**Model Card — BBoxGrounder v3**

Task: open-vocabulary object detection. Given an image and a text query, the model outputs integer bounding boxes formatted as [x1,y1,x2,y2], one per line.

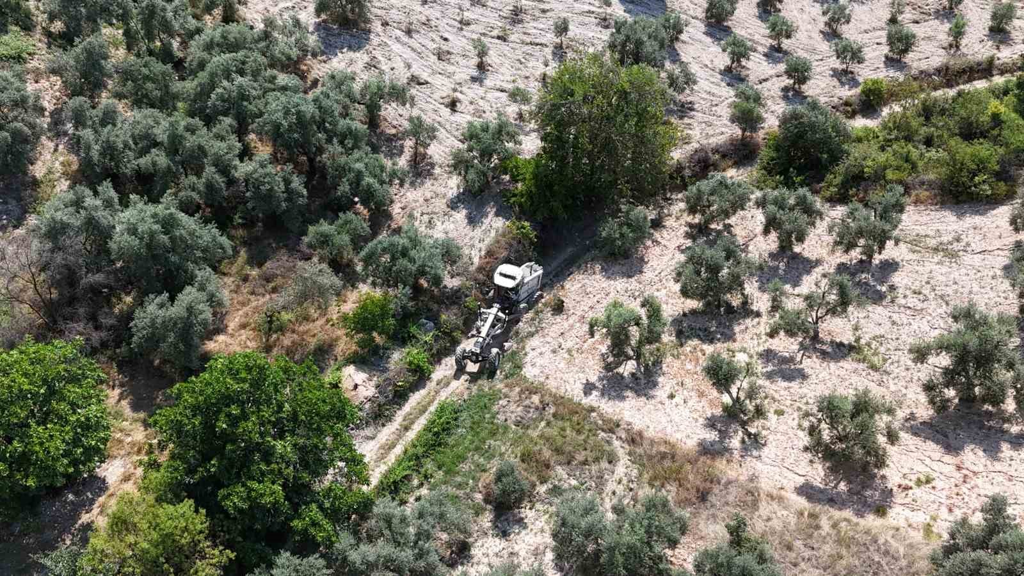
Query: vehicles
[456,260,552,376]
